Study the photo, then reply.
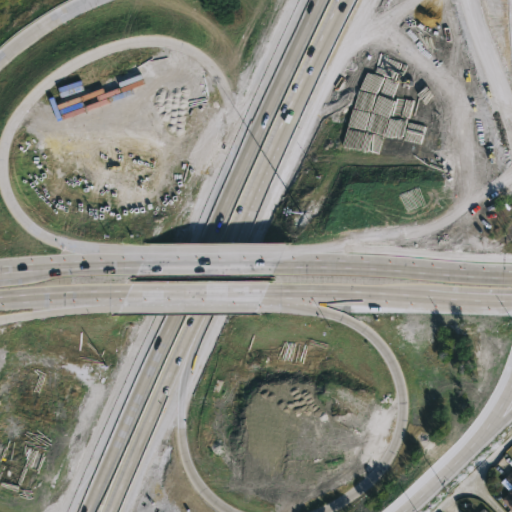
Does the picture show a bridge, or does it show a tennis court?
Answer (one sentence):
This aerial view contains a bridge.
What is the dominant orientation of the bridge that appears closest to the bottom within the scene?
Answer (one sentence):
The bridge that appears closest to the bottom runs from side to side in the image.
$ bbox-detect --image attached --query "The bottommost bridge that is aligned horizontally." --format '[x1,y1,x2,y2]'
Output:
[119,282,274,315]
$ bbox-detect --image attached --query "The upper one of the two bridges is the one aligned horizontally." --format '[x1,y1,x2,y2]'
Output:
[136,244,288,276]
